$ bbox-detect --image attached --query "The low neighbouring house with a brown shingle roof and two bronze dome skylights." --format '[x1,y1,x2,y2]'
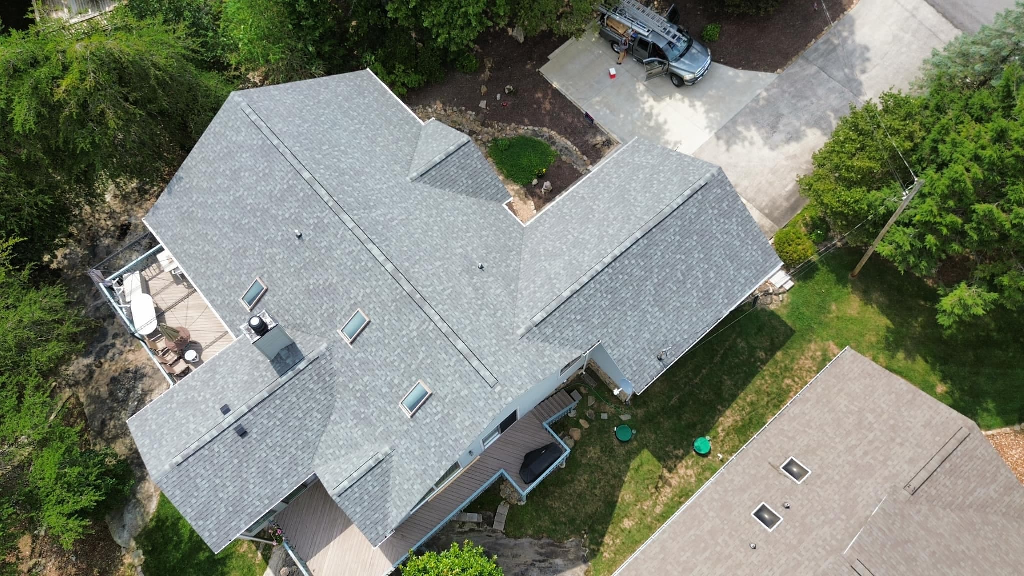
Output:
[609,348,1024,576]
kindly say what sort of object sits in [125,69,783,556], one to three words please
house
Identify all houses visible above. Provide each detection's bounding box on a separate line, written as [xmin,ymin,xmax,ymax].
[609,348,1024,576]
[125,69,783,556]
